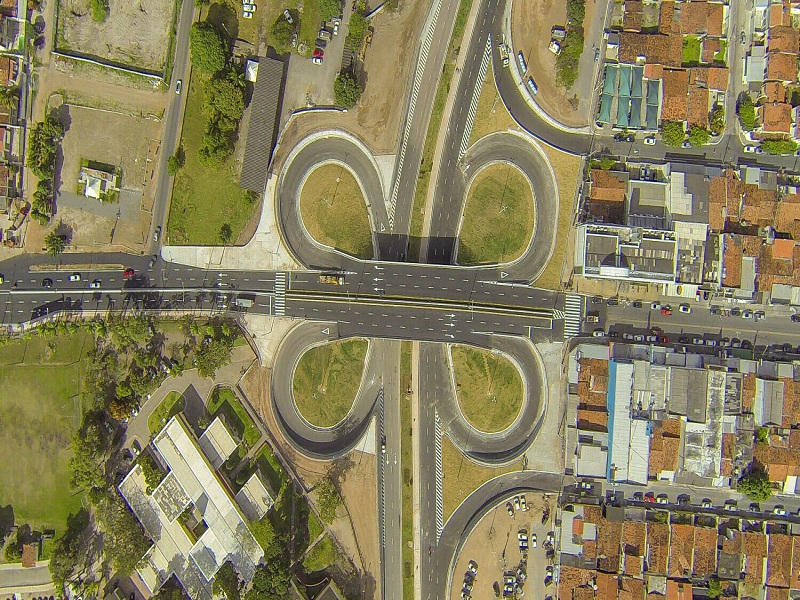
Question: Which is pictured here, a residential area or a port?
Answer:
residential area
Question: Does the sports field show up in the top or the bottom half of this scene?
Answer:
bottom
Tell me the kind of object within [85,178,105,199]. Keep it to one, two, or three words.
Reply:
house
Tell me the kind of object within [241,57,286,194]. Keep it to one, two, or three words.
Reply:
shed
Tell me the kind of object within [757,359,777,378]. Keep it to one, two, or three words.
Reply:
house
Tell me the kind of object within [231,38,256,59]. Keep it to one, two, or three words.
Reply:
shed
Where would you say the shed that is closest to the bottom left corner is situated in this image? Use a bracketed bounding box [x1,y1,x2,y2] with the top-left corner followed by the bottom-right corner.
[21,541,40,567]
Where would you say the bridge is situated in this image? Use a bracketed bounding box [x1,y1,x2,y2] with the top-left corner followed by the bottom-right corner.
[371,262,455,343]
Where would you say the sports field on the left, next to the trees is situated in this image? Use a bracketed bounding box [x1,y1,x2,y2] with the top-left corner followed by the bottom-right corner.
[0,373,84,531]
